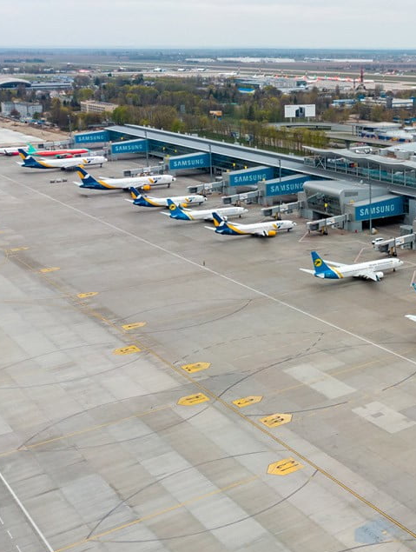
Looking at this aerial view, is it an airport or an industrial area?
airport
